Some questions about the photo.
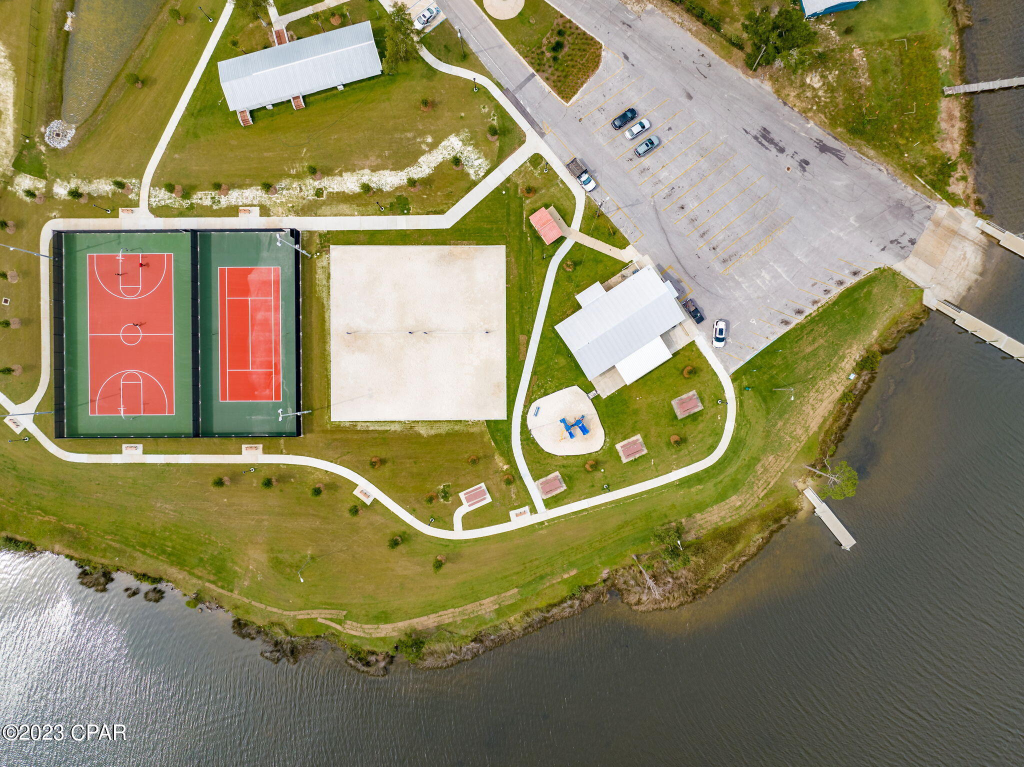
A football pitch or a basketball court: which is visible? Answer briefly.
basketball court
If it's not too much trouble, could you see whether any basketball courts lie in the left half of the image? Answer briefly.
Yes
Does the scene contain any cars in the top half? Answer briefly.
Yes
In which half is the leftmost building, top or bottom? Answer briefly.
top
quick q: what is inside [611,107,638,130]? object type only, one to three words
car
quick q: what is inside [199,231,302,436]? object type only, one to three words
tennis court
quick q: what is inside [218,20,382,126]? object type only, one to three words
building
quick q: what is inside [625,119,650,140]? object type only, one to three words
car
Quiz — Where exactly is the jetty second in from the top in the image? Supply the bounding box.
[975,219,1024,259]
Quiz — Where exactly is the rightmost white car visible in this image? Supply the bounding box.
[712,319,727,348]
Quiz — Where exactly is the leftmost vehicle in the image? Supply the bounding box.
[414,6,440,30]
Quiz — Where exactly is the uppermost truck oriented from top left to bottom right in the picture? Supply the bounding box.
[566,156,596,193]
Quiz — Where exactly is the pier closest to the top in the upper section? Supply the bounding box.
[941,77,1024,98]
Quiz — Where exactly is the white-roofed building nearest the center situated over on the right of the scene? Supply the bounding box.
[554,264,685,385]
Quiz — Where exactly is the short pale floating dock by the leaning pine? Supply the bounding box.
[803,486,856,550]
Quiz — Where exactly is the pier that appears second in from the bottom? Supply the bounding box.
[941,300,1024,362]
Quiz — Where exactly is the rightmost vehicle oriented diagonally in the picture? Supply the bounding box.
[681,296,706,325]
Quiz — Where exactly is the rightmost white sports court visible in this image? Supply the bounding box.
[330,245,506,420]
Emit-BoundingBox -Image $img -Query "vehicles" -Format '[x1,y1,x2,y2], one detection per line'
[566,156,596,193]
[681,296,706,325]
[634,136,660,158]
[625,119,650,140]
[414,6,440,30]
[712,319,727,348]
[611,107,638,130]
